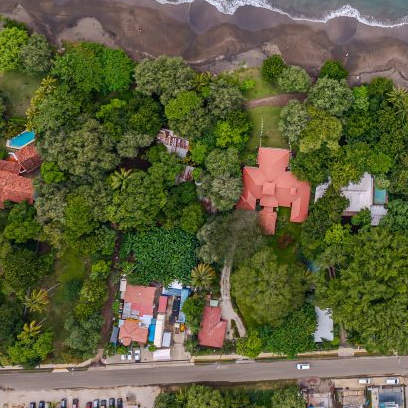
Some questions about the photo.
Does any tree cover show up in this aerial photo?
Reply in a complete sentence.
Yes, the picture does contain tree cover.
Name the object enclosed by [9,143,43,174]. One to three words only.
building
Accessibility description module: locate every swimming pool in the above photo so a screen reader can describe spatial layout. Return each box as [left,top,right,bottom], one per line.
[374,188,387,204]
[7,130,35,149]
